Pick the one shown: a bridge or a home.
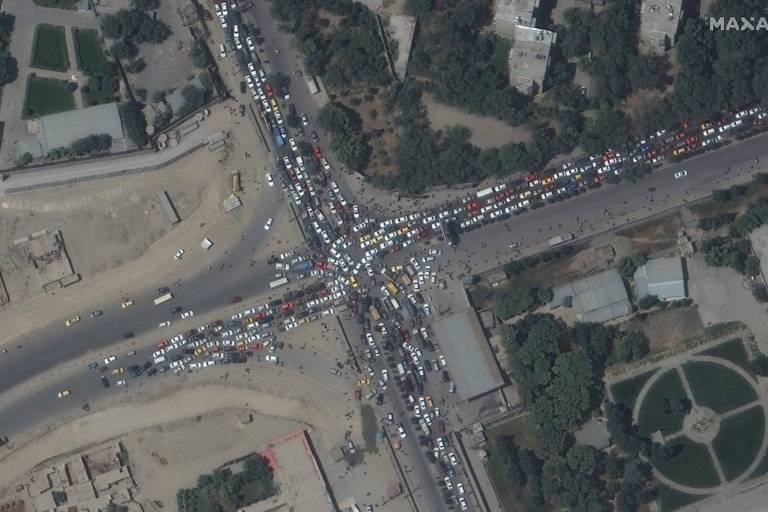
home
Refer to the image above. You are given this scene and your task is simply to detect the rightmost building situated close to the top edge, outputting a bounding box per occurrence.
[637,0,683,51]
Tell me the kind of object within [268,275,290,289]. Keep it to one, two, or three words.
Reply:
vehicle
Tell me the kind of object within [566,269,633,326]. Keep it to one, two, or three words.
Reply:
shed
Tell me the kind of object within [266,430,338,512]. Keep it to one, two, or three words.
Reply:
house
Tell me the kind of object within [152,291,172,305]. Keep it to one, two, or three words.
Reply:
vehicle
